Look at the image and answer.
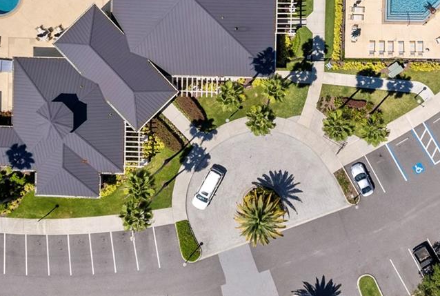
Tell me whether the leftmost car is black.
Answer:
No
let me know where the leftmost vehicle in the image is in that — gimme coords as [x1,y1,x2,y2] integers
[194,167,223,208]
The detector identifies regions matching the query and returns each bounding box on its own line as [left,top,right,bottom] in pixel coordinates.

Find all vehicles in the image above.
[350,162,374,201]
[194,167,223,208]
[414,243,440,290]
